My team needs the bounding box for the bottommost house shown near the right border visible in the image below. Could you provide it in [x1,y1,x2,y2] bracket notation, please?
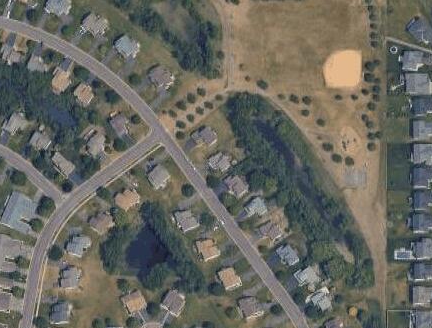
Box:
[409,311,432,328]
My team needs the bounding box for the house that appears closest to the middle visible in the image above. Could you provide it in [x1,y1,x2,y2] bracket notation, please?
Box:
[211,150,232,174]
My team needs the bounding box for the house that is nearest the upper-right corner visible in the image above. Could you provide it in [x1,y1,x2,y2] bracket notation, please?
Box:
[407,17,432,46]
